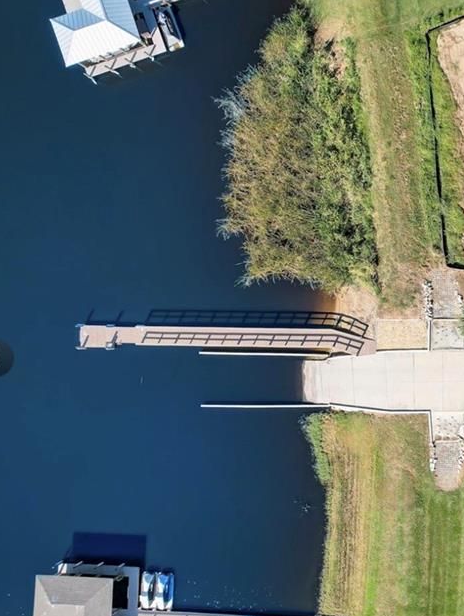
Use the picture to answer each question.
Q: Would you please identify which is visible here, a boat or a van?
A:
boat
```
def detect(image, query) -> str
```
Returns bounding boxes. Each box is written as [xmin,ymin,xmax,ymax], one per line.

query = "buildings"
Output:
[49,0,168,76]
[34,562,141,616]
